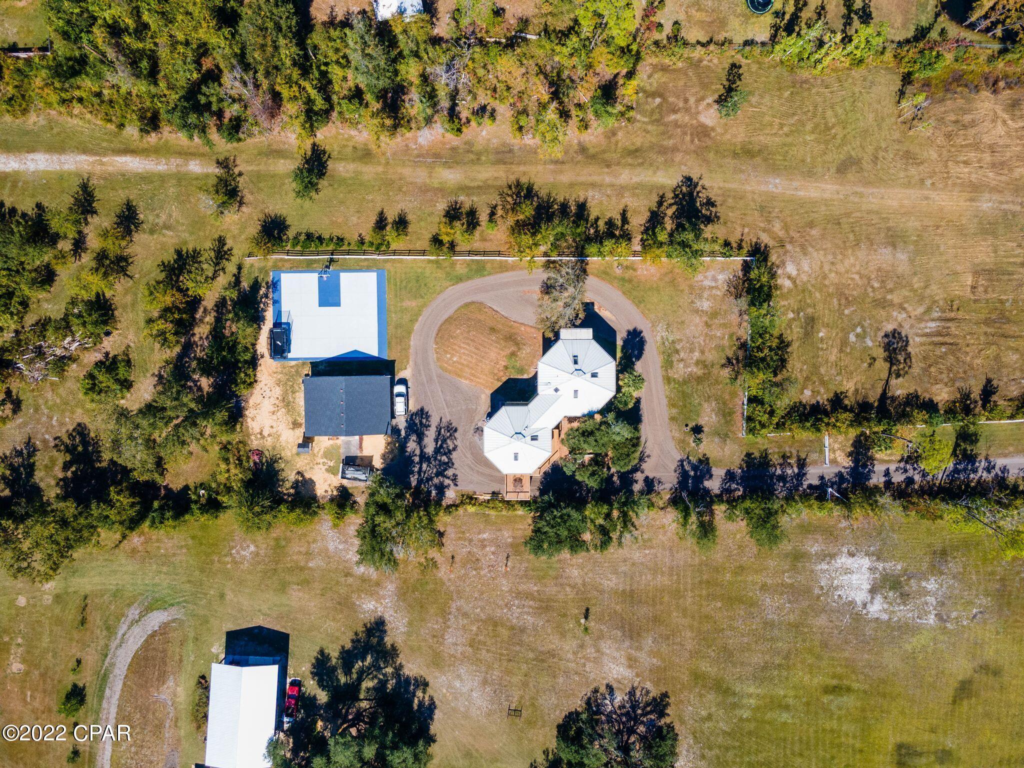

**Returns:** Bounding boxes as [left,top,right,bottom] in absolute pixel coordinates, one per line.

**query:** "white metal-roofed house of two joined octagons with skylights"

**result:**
[483,328,616,475]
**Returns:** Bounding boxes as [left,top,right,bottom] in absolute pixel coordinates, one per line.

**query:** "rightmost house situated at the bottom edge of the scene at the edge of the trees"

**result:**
[205,658,282,768]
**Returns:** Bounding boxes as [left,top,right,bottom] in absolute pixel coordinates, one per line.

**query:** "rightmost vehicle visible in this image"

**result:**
[394,385,408,417]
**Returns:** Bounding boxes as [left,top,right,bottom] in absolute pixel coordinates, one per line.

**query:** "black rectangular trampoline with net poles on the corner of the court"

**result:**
[265,327,290,359]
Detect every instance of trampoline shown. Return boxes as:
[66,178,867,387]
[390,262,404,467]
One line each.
[745,0,776,15]
[265,327,290,359]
